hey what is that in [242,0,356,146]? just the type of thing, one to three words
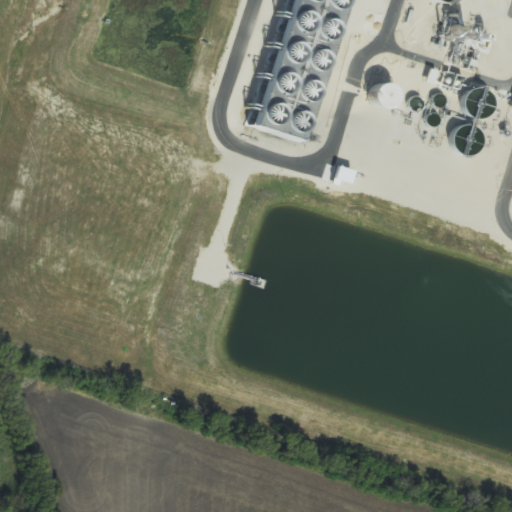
cooling tower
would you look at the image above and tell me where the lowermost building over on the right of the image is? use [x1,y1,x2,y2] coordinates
[332,165,358,186]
